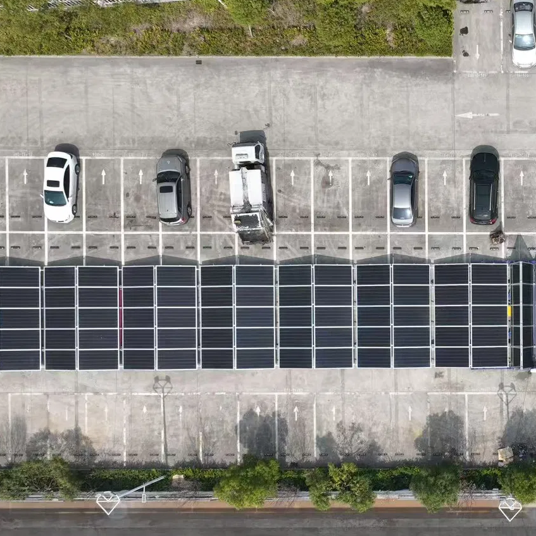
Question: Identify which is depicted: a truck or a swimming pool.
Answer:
truck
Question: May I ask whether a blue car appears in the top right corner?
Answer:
No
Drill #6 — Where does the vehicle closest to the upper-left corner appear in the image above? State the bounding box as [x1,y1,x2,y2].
[40,149,81,223]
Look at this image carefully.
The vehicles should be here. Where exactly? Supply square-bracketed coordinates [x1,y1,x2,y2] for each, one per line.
[153,153,193,225]
[506,0,536,69]
[228,135,273,243]
[385,157,420,229]
[40,149,81,223]
[465,152,502,225]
